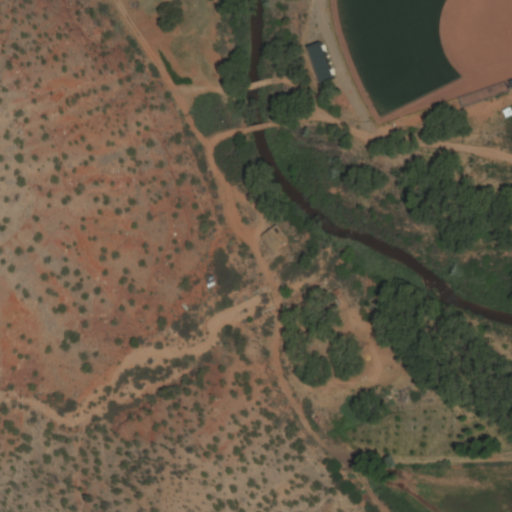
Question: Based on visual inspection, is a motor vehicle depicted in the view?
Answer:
No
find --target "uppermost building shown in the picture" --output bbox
[306,41,334,82]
